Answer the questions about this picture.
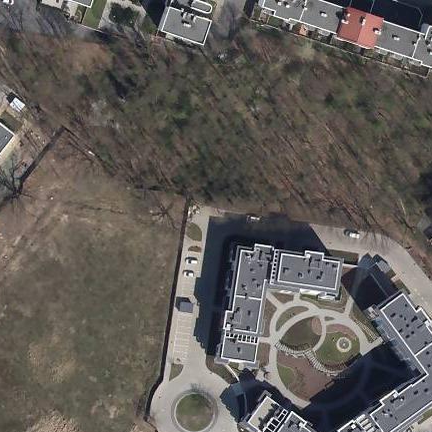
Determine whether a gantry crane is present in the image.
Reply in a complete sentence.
No, the frame has no gantry crane in it.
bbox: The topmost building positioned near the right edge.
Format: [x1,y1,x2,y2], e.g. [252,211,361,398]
[263,0,432,68]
